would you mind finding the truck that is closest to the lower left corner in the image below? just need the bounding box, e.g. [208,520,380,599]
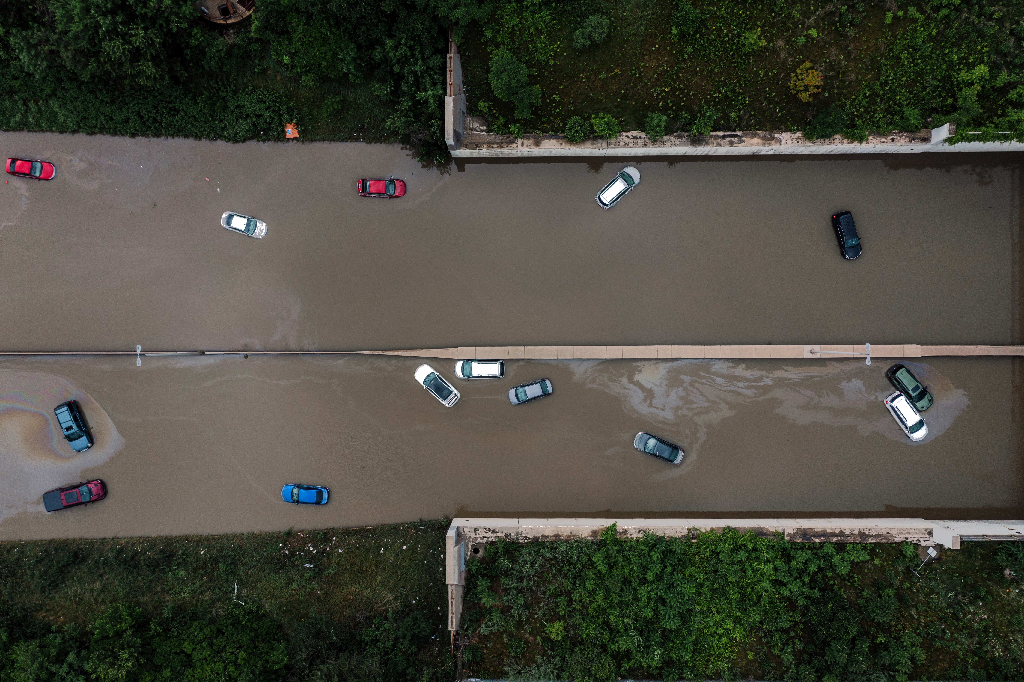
[43,480,109,512]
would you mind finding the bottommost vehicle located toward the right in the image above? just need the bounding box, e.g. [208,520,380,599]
[633,431,684,465]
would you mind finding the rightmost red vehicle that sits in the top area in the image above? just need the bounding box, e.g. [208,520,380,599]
[353,176,406,199]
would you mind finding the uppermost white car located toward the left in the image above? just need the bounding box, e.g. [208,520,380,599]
[222,211,269,239]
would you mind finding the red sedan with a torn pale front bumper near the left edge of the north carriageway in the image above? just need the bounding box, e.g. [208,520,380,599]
[7,157,58,181]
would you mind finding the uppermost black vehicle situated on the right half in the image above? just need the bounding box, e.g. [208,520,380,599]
[830,211,862,260]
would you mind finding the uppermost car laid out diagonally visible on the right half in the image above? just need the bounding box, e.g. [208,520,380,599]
[595,166,640,210]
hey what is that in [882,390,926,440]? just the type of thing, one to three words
car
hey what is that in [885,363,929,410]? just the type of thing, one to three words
car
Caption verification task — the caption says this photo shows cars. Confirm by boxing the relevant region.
[222,211,269,239]
[595,166,640,210]
[283,483,330,507]
[455,359,504,382]
[508,378,553,405]
[7,157,58,181]
[830,211,862,260]
[633,431,684,465]
[415,363,462,409]
[882,390,926,440]
[885,363,929,410]
[54,401,94,451]
[353,176,406,199]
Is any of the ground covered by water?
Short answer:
Yes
